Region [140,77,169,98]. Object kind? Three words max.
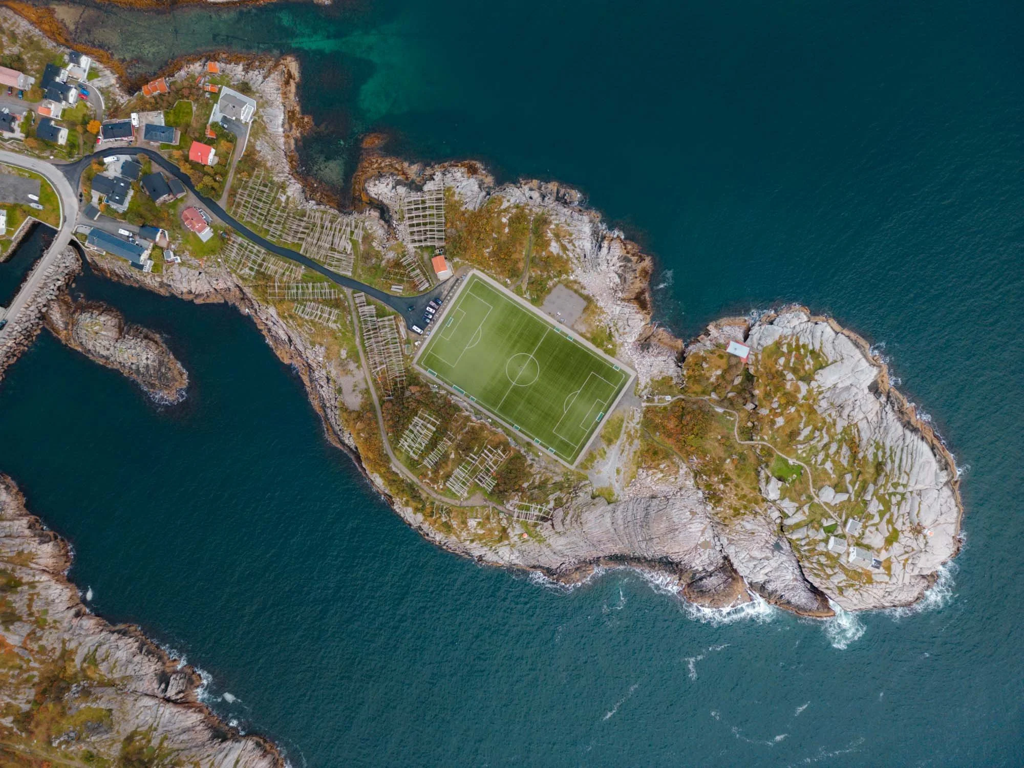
building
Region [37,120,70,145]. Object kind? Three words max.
house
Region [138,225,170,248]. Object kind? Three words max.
building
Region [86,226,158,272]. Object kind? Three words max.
house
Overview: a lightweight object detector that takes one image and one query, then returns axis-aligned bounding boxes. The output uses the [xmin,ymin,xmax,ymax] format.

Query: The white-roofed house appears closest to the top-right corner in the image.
[725,338,750,363]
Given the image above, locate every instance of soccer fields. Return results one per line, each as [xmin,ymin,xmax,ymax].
[410,267,638,472]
